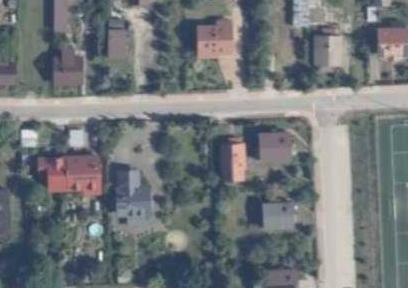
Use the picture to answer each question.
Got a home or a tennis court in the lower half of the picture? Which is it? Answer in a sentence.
The one visible in the lower half of the picture is a home.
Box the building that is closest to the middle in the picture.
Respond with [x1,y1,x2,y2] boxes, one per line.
[220,137,246,184]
